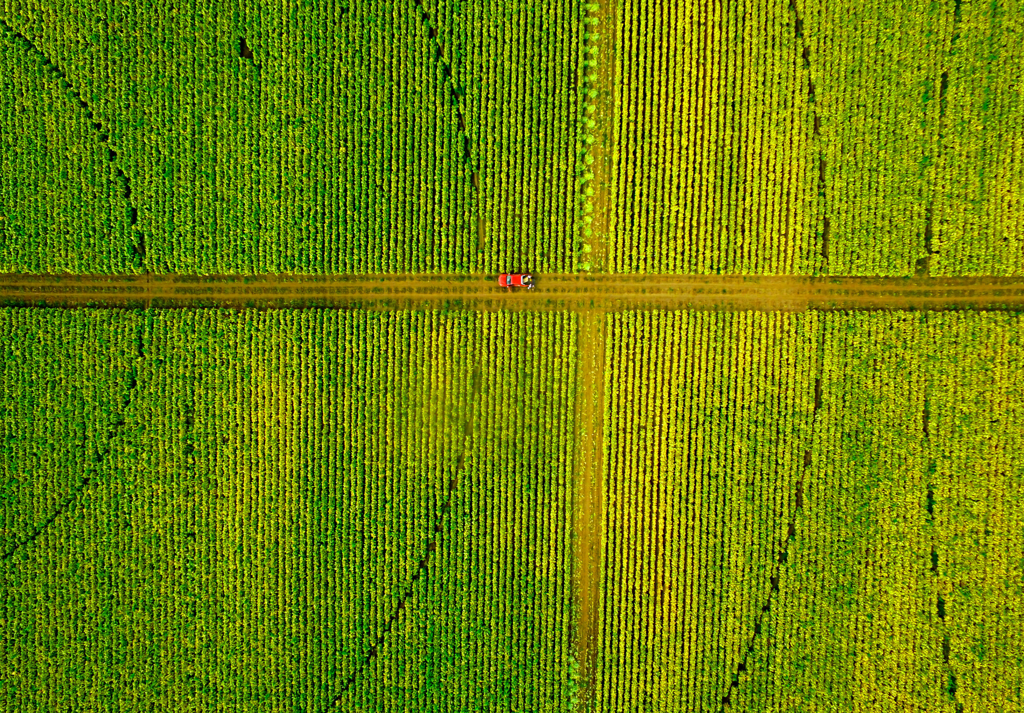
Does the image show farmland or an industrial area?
farmland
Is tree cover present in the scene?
No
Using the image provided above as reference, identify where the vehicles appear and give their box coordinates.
[498,273,533,292]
